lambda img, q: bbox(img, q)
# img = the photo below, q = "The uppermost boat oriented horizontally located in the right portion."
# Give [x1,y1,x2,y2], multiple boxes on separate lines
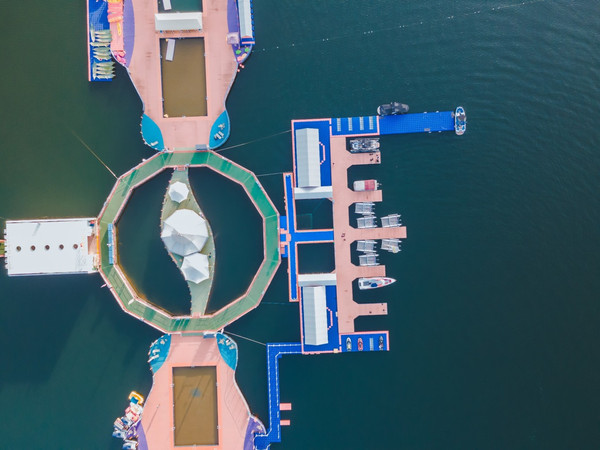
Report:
[375,101,409,115]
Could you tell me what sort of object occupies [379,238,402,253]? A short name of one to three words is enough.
boat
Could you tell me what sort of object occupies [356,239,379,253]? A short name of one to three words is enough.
boat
